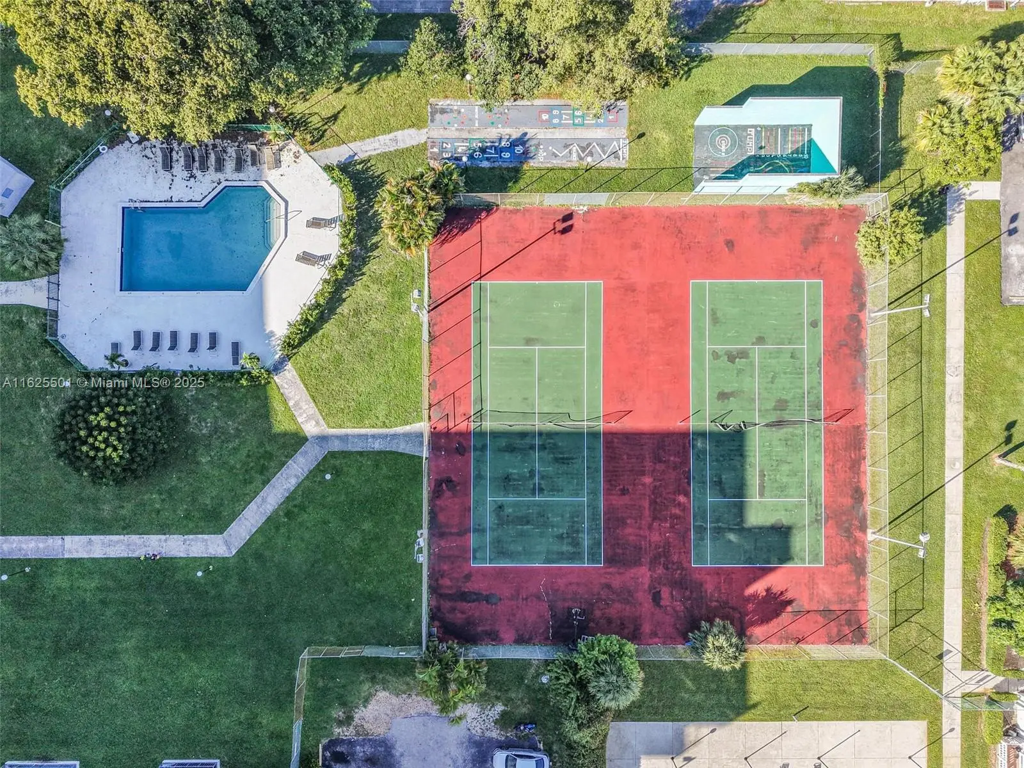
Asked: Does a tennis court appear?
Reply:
Yes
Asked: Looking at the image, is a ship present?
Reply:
No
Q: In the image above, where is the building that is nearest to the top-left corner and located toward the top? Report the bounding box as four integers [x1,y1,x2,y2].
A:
[0,157,38,217]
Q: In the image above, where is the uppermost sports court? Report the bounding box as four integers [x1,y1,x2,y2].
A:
[694,94,843,193]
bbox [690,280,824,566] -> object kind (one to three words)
tennis court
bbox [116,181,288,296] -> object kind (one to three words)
swimming pool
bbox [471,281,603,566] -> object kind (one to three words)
tennis court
